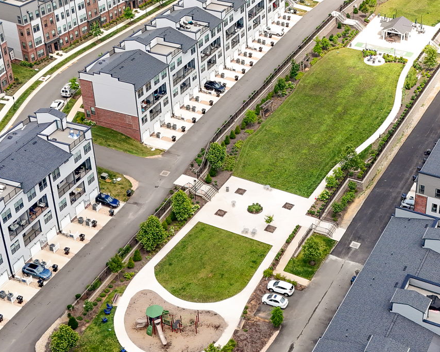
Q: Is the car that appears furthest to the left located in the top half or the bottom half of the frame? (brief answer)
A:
bottom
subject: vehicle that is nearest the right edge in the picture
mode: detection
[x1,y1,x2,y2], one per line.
[395,194,417,211]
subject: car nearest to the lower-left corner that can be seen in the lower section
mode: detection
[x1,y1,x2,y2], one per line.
[23,257,52,282]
